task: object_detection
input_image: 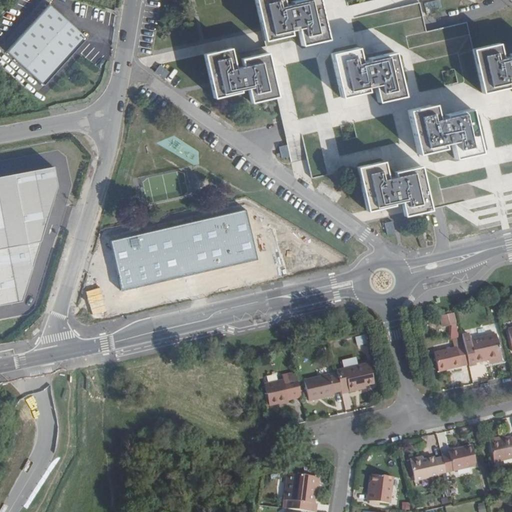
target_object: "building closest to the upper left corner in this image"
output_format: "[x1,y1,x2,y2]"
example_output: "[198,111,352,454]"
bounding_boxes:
[9,5,84,84]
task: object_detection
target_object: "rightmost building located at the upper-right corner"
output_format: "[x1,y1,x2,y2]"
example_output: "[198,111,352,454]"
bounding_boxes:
[472,44,512,94]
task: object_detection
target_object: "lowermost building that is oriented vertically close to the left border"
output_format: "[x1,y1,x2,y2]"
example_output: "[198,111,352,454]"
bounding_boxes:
[0,167,59,306]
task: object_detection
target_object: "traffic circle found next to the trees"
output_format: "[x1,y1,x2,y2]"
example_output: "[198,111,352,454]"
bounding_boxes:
[356,254,410,308]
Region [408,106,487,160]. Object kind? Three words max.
building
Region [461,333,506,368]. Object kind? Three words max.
house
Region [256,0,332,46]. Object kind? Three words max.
building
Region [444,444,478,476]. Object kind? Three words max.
house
